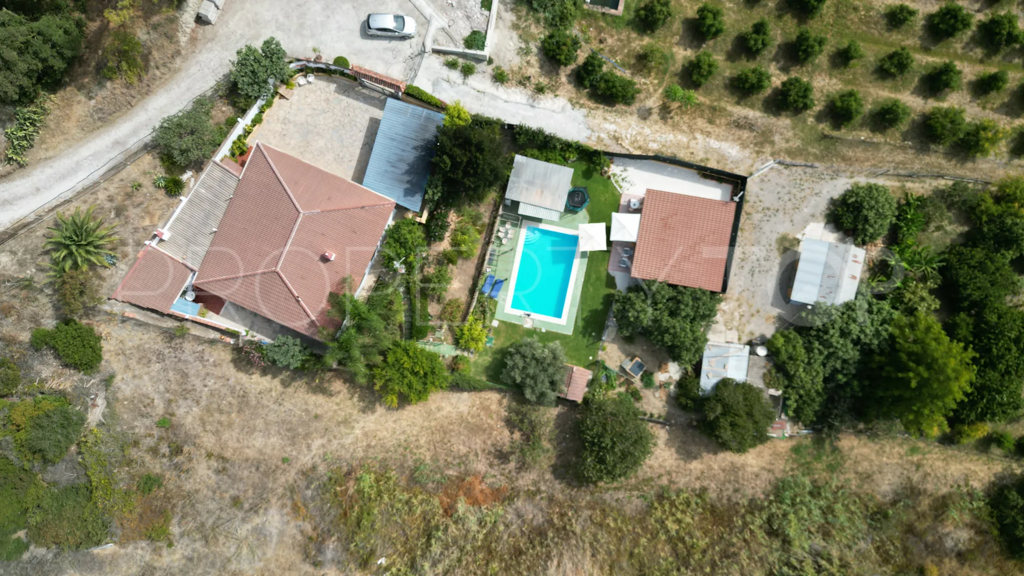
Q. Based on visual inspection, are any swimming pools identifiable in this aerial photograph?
Yes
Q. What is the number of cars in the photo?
one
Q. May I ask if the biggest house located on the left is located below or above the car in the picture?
below it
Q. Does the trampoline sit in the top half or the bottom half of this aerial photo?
top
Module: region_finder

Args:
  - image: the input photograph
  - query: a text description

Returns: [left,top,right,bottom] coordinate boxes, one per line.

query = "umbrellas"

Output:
[580,222,607,251]
[610,213,640,241]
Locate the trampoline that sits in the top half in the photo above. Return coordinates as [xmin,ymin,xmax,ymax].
[568,187,589,212]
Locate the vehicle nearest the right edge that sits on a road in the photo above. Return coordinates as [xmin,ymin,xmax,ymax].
[366,12,416,39]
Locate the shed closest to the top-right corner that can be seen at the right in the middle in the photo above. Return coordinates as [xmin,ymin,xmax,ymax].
[780,238,865,305]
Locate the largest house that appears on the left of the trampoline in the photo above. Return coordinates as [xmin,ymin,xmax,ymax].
[191,139,396,345]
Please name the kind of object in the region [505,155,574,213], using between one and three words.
shed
